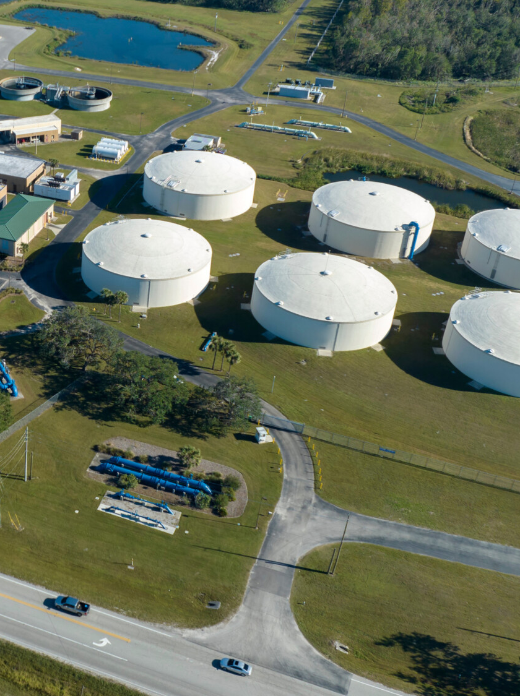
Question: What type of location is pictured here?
industrial area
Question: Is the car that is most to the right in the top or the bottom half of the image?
bottom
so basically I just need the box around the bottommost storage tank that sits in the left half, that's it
[70,215,218,314]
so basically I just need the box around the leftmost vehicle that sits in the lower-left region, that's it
[55,594,92,617]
